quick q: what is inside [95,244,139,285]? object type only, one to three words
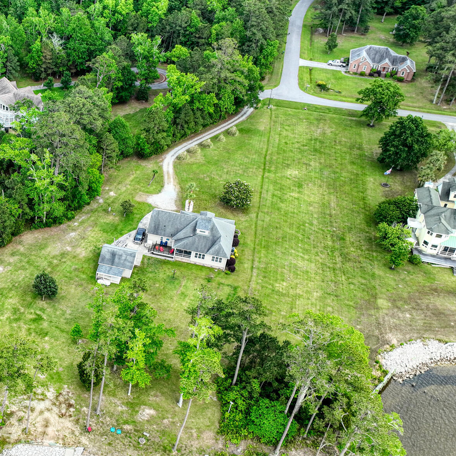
shed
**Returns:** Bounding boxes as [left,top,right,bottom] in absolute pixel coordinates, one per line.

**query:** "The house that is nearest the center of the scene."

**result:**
[147,207,236,271]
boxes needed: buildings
[349,47,416,80]
[95,244,139,285]
[147,207,236,271]
[406,177,456,276]
[0,76,51,134]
